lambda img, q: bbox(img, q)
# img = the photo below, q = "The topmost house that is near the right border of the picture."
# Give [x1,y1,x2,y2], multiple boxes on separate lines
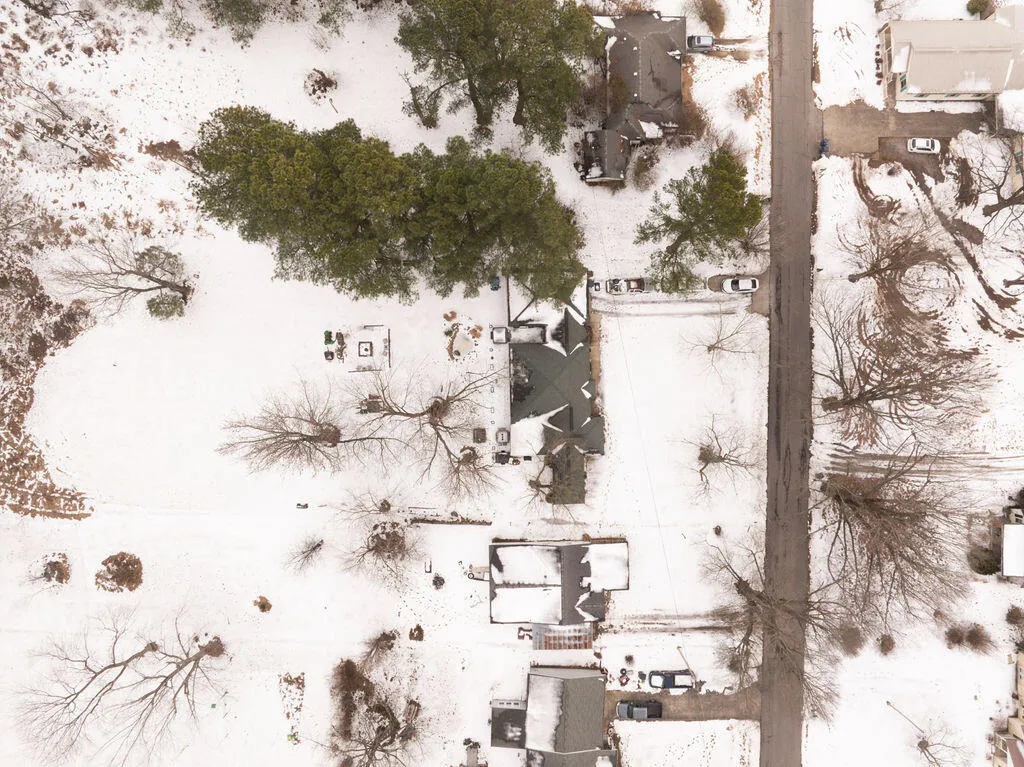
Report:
[881,0,1024,106]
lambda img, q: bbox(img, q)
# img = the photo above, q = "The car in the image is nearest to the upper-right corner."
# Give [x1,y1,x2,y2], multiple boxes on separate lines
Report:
[909,136,943,152]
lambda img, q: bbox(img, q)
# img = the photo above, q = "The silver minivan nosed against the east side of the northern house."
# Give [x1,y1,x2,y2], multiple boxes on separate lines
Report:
[687,32,716,50]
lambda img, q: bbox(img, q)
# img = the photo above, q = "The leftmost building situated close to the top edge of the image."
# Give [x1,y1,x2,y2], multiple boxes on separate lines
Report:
[584,10,687,184]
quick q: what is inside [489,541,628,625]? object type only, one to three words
house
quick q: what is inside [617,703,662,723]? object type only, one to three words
vehicle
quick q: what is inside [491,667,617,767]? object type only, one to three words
house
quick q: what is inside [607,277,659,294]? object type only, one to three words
vehicle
